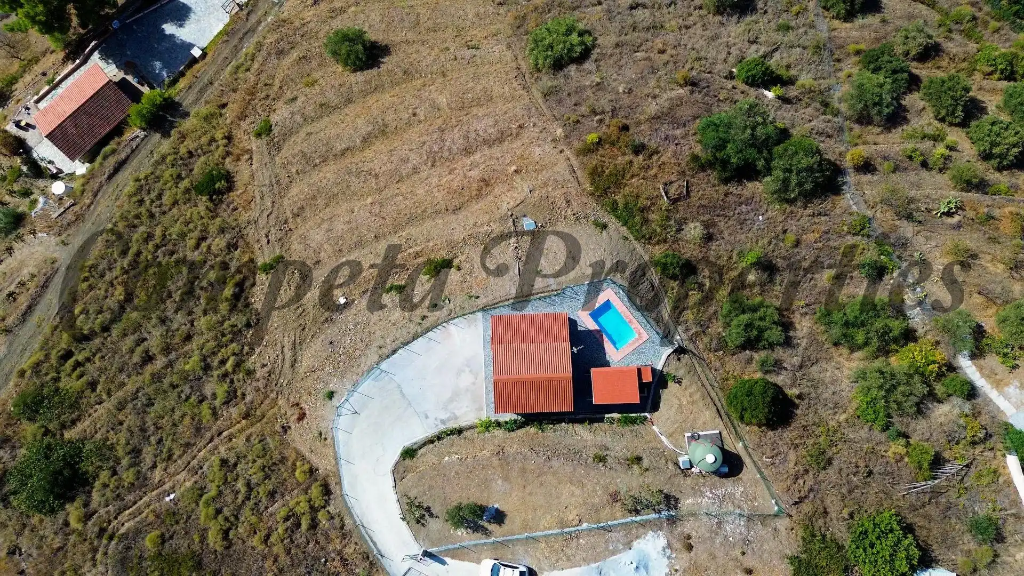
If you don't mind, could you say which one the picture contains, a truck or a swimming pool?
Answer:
swimming pool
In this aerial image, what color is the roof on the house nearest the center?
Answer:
red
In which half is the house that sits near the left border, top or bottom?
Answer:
top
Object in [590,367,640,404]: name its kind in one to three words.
shed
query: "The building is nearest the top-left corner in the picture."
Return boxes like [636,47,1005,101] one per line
[33,62,135,162]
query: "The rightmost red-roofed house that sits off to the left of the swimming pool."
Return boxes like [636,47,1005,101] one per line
[491,313,586,414]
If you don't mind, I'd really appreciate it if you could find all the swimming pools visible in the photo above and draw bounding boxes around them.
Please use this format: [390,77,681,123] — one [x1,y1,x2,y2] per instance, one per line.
[578,288,650,362]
